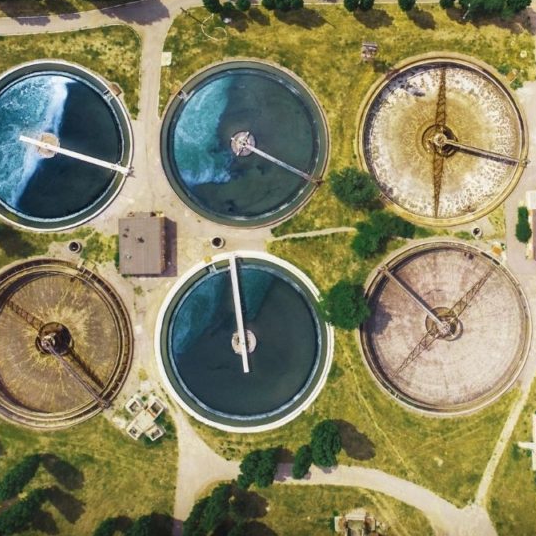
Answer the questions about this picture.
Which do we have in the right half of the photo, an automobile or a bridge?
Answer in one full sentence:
Looking in the right half of the photo, you will find a bridge.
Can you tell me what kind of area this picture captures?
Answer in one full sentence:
This looks like an industrial area.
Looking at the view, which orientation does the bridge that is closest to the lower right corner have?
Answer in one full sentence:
What the image shows is the bridge that is closest to the lower right corner lying diagonally.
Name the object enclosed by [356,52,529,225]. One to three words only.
storage tank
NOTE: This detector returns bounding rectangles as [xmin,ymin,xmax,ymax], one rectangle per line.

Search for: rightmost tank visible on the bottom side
[357,240,534,417]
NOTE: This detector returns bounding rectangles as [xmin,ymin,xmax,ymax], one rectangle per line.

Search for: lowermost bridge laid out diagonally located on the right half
[379,264,447,331]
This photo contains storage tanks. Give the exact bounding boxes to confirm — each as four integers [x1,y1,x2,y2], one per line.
[0,60,135,231]
[357,240,534,417]
[0,257,135,429]
[154,251,335,432]
[356,52,529,225]
[160,59,330,229]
